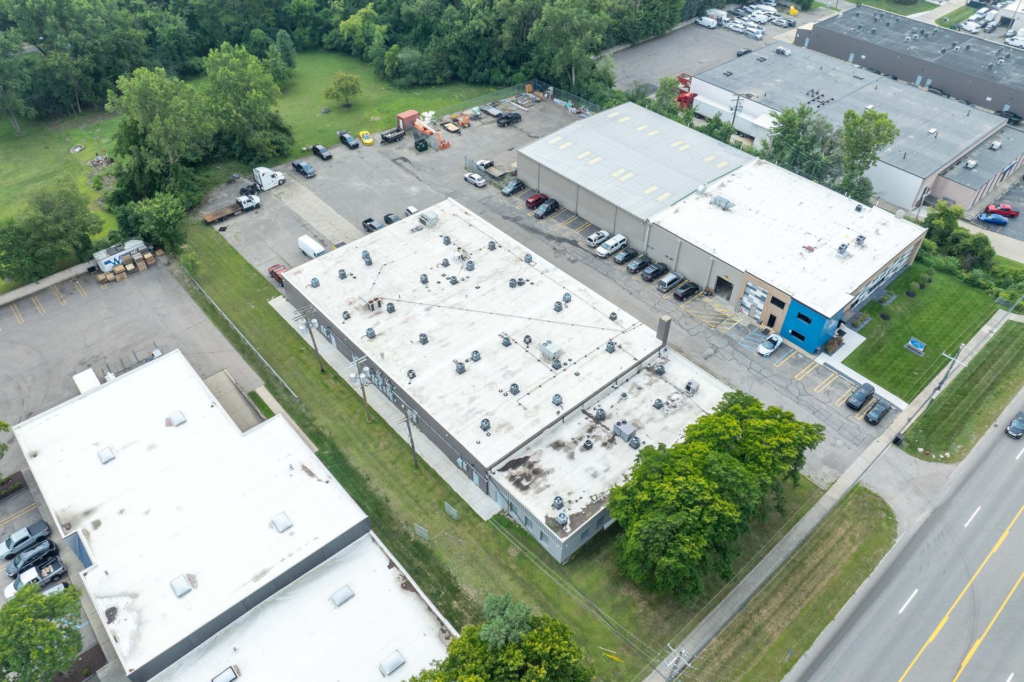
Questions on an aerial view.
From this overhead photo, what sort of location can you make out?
industrial area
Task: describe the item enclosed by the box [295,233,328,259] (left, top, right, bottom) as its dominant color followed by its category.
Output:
white vehicle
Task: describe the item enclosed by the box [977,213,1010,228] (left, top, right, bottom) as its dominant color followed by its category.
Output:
blue car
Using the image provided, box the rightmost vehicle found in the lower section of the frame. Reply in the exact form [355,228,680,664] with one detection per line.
[1001,410,1024,441]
